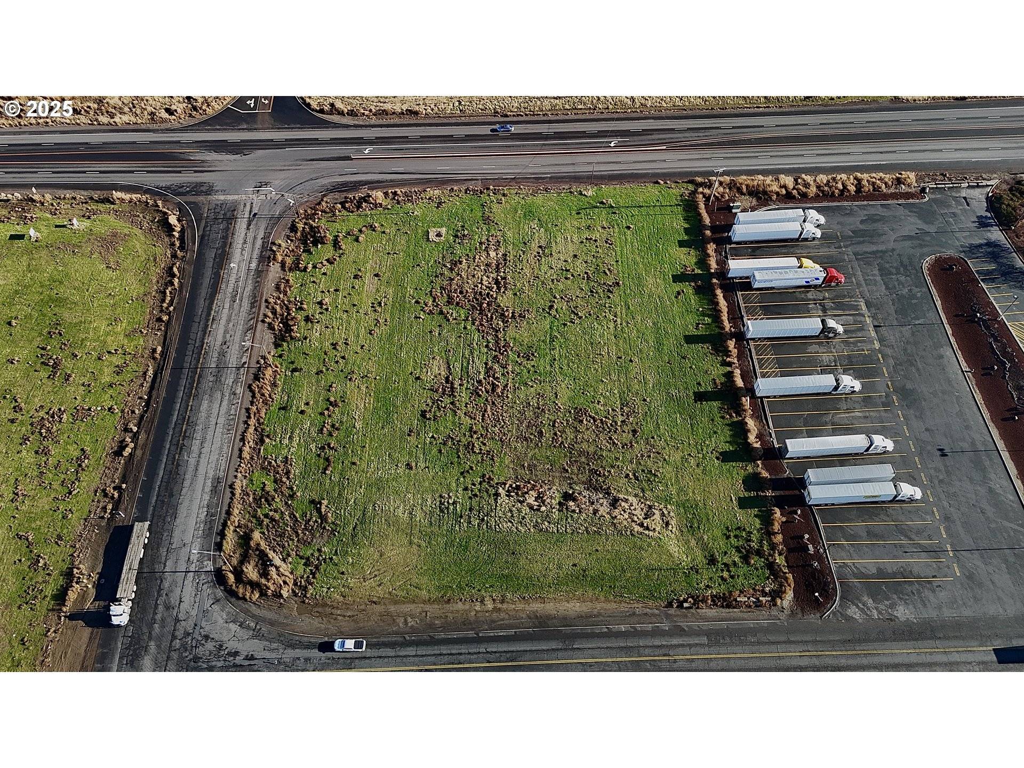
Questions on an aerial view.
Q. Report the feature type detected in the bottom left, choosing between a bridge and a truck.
truck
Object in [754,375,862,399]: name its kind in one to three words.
truck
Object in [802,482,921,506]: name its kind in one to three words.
truck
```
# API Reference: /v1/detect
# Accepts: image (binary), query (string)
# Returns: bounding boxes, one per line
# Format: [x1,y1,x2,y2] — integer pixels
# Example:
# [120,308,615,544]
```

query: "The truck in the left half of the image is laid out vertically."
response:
[109,521,151,629]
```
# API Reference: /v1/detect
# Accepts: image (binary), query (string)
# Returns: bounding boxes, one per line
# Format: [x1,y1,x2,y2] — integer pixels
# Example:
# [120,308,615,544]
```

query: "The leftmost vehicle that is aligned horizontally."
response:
[332,639,366,654]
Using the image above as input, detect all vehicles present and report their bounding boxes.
[332,639,366,654]
[754,375,862,399]
[109,521,151,629]
[725,257,821,280]
[734,211,826,229]
[802,482,921,506]
[780,437,895,461]
[496,124,513,132]
[730,222,824,245]
[750,269,848,292]
[745,317,847,341]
